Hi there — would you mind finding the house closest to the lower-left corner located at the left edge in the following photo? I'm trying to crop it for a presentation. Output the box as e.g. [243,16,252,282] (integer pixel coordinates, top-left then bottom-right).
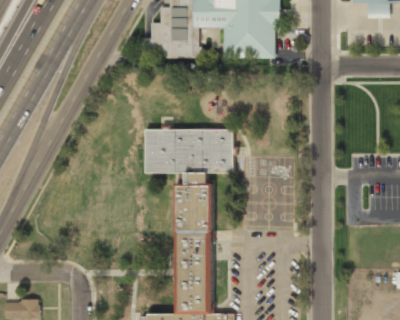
[4,299,41,320]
